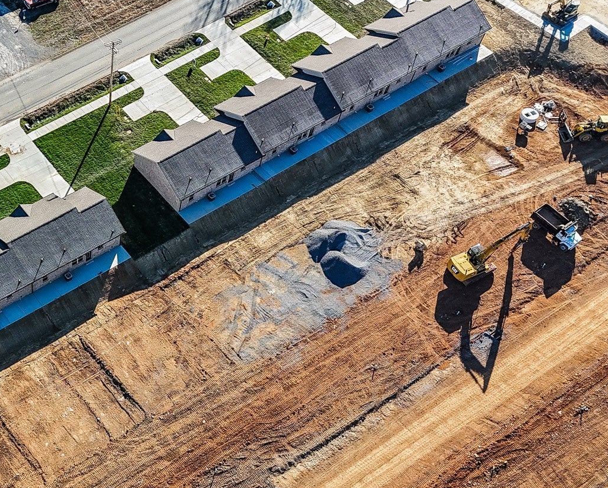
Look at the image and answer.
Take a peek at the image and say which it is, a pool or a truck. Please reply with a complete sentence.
It is a truck that can be seen here.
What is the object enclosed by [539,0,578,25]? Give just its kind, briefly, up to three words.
work vehicle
